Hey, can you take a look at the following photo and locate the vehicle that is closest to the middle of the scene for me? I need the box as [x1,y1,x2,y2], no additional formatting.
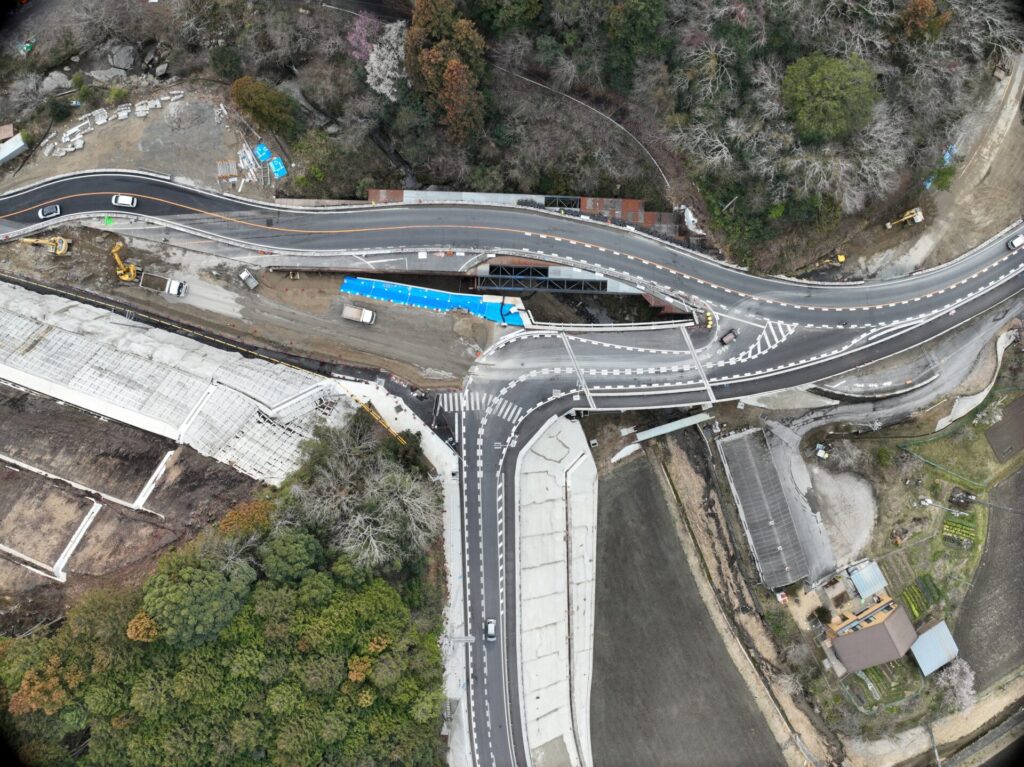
[337,304,374,325]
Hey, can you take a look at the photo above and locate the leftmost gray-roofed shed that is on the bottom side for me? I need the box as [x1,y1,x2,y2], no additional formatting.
[714,430,809,590]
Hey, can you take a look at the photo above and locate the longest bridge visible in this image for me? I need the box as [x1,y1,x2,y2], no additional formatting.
[519,296,700,333]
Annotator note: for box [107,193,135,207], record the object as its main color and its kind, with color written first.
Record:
white car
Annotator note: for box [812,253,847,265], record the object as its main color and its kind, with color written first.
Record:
yellow vehicle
